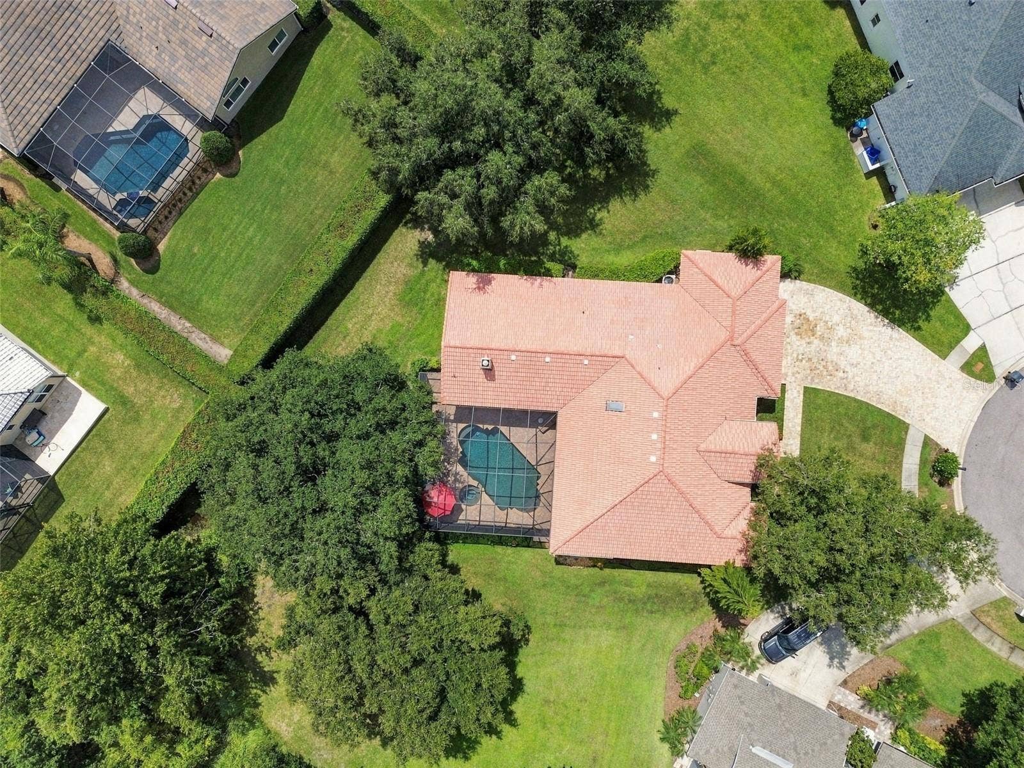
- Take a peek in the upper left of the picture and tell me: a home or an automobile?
home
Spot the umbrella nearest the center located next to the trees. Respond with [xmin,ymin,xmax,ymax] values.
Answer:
[424,482,459,518]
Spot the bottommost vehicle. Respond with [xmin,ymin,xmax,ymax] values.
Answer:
[756,608,828,662]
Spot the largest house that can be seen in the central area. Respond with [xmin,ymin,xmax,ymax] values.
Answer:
[439,249,788,566]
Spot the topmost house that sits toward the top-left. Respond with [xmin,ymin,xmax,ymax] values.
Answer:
[0,0,304,155]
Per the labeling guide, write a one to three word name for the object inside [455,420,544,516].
swimming pool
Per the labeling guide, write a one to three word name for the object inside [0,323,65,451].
house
